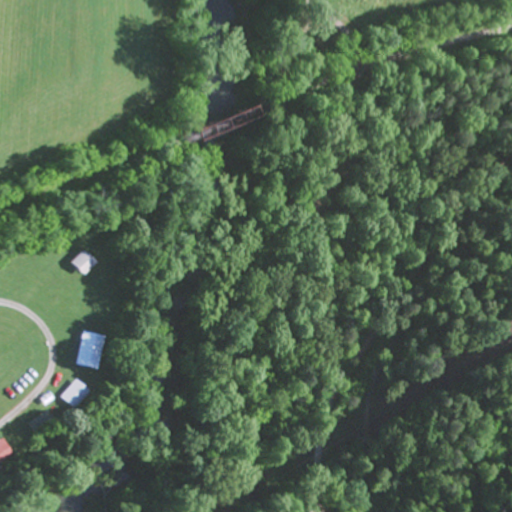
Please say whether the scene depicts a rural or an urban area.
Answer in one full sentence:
It looks rural.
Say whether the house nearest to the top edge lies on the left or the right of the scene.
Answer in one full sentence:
The house nearest to the top edge is on the left side of the image.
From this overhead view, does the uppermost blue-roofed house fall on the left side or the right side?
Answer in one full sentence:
It is on the left.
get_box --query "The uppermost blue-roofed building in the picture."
[76,331,105,370]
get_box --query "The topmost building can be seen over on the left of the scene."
[71,250,96,276]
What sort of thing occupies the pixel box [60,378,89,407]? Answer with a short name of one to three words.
house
